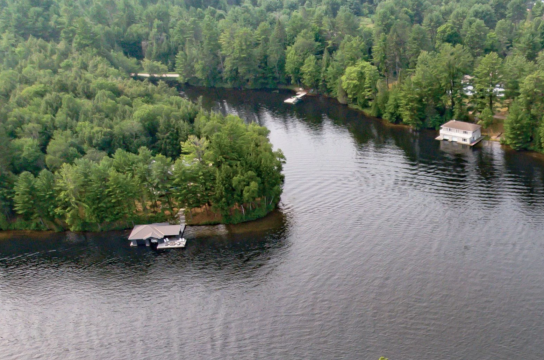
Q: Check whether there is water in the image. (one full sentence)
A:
Yes, water can be seen from above here.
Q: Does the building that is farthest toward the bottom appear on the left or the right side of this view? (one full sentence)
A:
You can find the building that is farthest toward the bottom on the left side of the picture.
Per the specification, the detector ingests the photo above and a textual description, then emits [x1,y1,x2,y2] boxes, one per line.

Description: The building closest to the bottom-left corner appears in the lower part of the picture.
[122,223,190,249]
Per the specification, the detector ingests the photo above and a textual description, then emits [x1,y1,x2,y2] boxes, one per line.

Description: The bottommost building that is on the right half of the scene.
[437,117,477,144]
